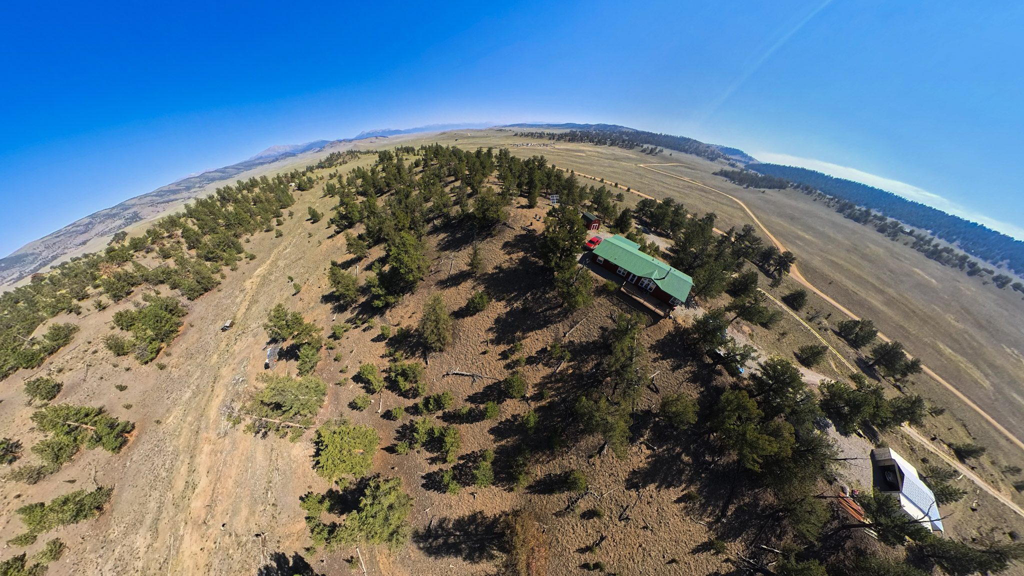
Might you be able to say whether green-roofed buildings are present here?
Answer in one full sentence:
Yes, looking at the shot, I can spot a green-roofed building.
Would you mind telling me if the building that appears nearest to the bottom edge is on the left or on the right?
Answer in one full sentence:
You can find the building that appears nearest to the bottom edge on the right side of the picture.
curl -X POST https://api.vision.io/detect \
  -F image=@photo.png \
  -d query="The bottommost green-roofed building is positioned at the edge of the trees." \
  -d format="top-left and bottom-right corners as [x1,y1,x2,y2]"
[592,238,702,327]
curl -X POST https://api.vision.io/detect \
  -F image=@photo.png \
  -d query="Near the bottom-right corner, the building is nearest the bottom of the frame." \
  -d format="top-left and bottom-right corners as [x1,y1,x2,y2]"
[867,445,946,524]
